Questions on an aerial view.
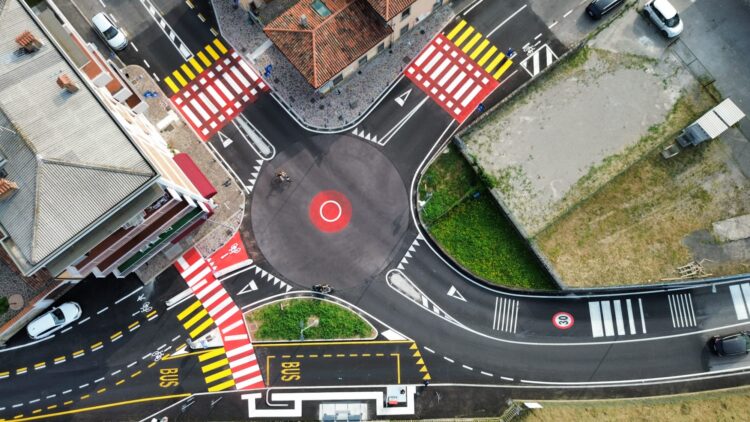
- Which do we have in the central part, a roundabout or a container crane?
roundabout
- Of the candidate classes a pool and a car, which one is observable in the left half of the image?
car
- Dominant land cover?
paved ground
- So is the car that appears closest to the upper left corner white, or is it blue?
white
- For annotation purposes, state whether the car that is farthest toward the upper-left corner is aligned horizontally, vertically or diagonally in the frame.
diagonally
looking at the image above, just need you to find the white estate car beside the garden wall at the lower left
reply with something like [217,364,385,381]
[24,303,79,340]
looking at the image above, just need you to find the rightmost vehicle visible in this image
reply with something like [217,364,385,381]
[710,333,750,360]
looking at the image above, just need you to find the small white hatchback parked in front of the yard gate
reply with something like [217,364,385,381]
[645,0,680,34]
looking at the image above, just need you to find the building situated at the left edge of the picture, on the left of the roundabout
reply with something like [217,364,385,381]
[0,0,223,284]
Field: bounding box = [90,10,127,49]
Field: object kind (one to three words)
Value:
car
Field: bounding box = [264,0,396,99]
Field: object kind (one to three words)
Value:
house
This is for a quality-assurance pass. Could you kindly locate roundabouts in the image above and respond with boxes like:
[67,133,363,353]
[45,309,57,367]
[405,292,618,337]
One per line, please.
[250,134,411,293]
